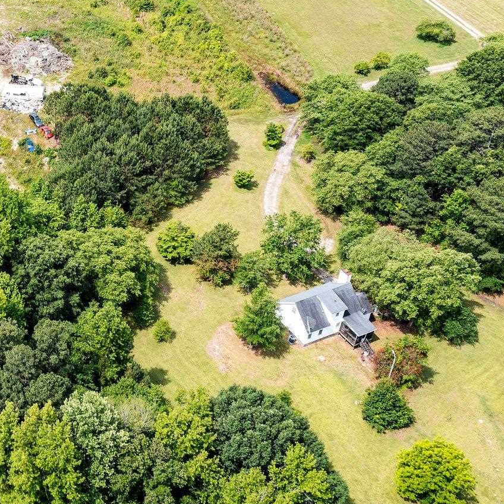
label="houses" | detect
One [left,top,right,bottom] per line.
[2,80,46,107]
[270,253,389,349]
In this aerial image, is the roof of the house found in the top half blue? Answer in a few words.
No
